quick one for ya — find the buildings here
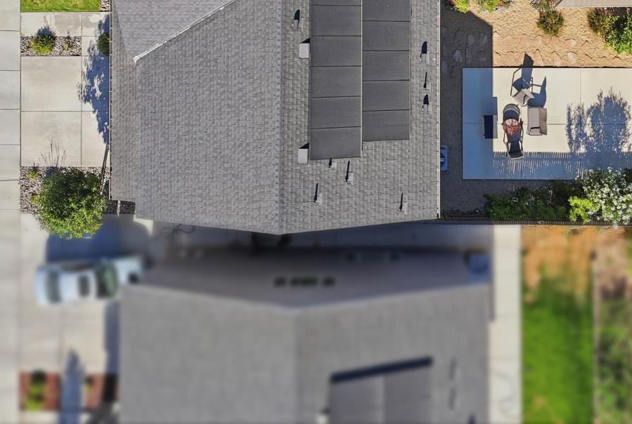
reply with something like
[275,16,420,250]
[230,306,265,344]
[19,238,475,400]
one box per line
[116,249,494,424]
[108,0,443,234]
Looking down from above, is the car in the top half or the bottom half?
bottom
